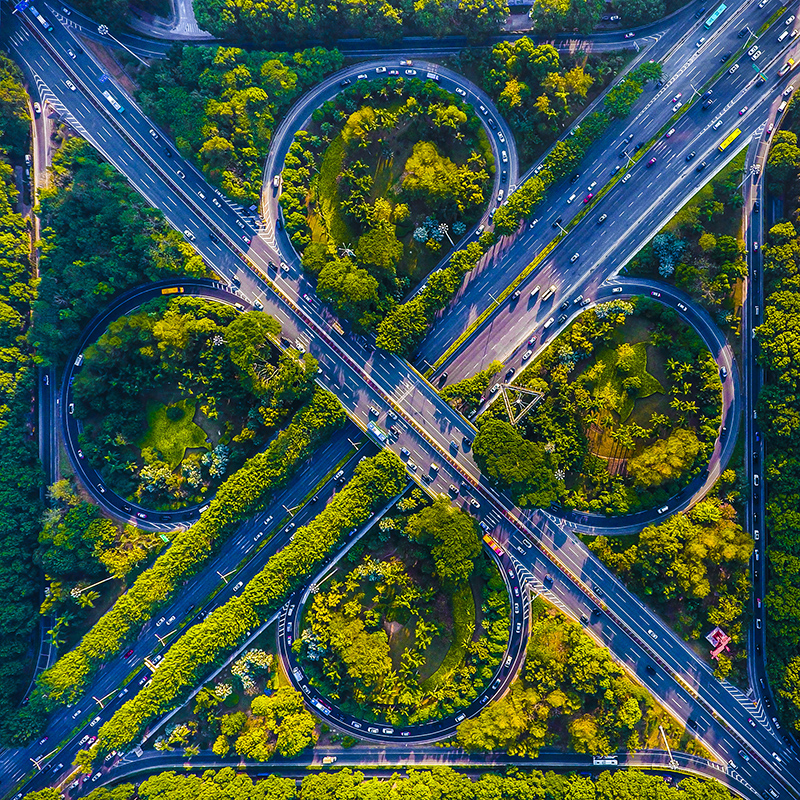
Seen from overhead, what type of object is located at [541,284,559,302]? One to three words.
vehicle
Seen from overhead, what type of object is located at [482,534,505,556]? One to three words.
bus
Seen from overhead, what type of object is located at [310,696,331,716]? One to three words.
bus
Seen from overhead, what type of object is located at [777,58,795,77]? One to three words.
vehicle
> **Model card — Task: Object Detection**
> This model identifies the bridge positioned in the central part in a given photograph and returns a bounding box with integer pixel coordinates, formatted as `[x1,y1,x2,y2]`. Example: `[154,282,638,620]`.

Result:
[305,312,482,500]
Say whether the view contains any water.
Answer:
No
